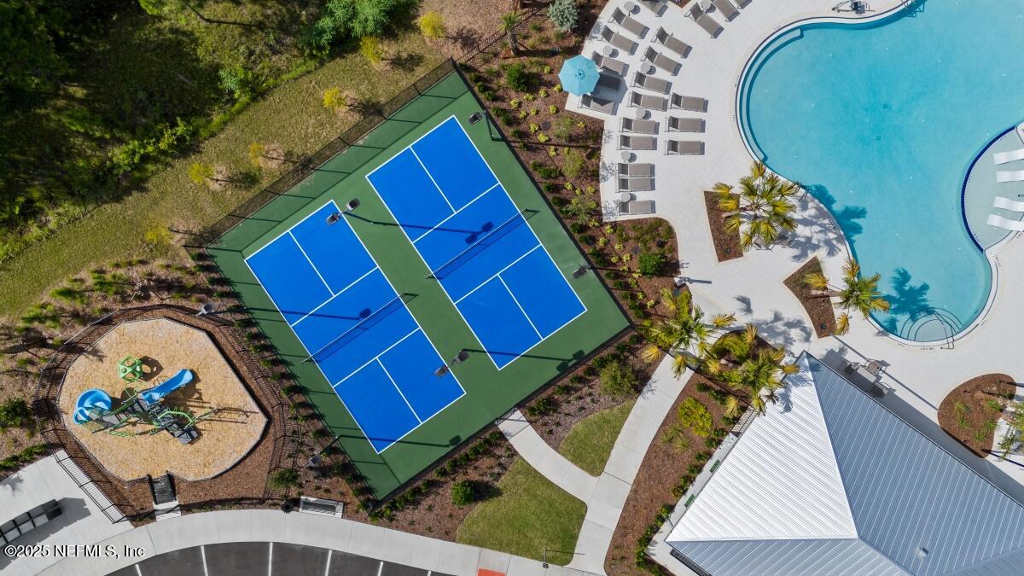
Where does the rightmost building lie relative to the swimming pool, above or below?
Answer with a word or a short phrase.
below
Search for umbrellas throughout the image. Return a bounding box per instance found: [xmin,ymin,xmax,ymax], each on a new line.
[558,55,600,98]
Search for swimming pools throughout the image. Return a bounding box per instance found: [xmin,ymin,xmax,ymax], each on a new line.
[733,0,1024,350]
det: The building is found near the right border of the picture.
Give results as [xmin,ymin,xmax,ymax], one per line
[663,353,1024,576]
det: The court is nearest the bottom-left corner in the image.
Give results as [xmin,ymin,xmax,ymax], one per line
[244,200,466,454]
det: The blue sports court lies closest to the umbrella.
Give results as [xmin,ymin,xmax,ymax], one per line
[365,115,587,370]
